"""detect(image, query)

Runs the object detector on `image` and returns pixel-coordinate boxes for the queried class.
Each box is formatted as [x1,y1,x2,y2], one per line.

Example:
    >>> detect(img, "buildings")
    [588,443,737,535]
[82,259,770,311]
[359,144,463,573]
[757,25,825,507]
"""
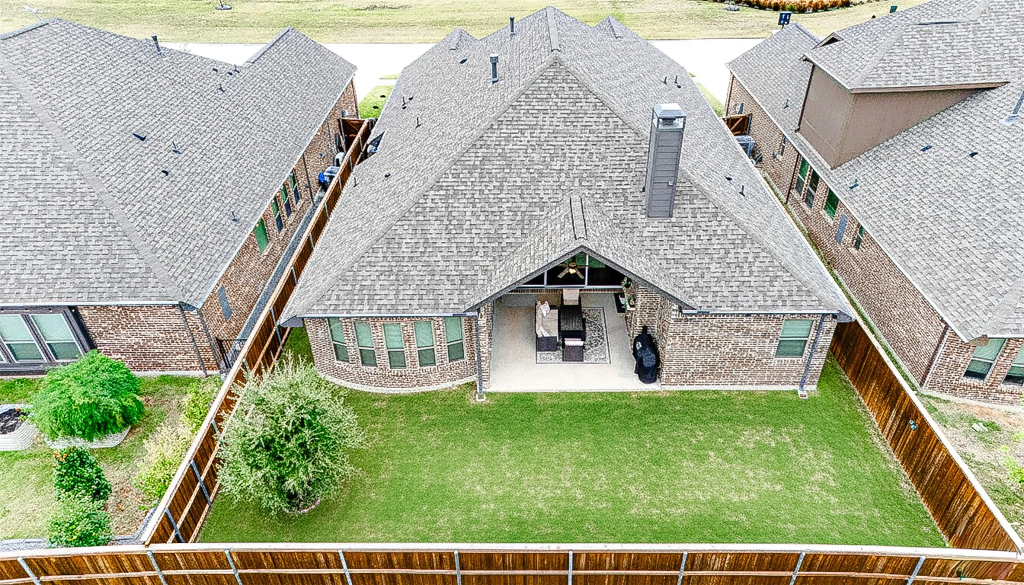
[0,15,355,379]
[277,4,866,395]
[723,0,1024,416]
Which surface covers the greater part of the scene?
buildings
